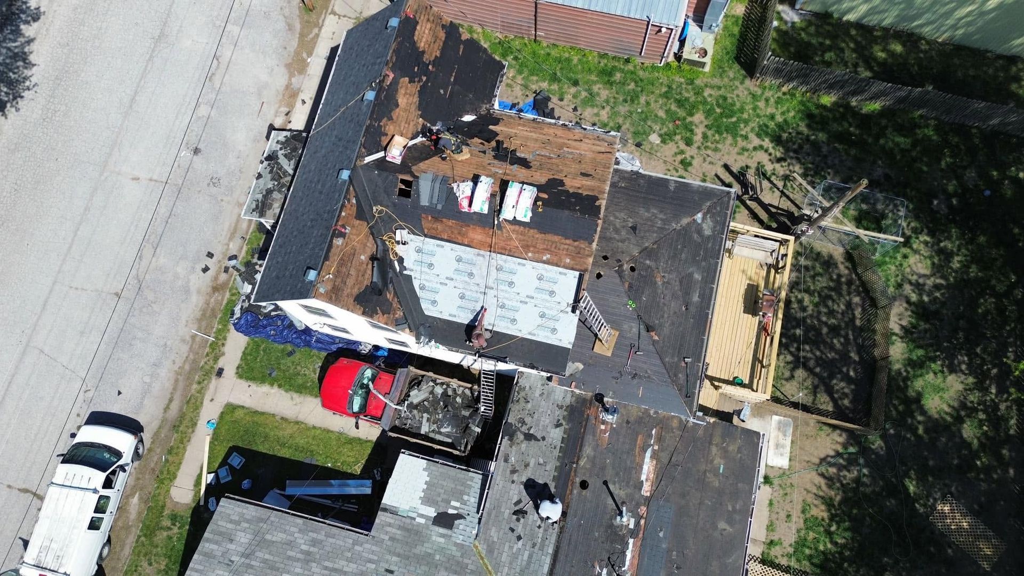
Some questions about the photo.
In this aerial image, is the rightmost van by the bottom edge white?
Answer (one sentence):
Yes, the rightmost van by the bottom edge appears white.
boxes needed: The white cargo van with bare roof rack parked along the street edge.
[17,421,148,576]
